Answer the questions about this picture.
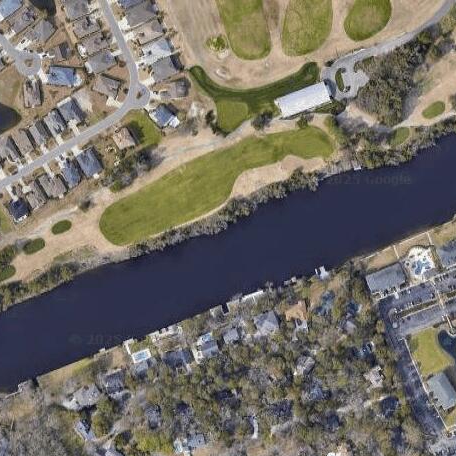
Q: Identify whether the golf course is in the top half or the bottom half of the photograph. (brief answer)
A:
top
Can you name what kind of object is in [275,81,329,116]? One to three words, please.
building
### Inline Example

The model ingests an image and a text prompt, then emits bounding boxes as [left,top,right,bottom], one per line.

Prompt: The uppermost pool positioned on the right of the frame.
[405,245,435,280]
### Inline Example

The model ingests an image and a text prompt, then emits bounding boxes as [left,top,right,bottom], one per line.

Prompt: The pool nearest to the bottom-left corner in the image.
[132,348,152,363]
